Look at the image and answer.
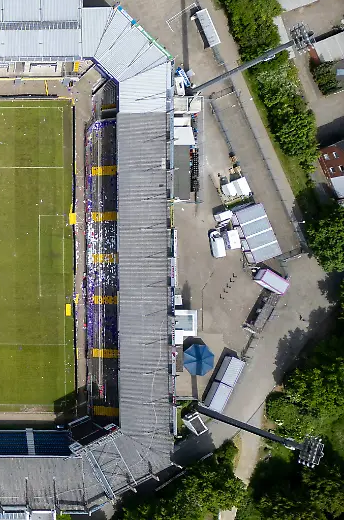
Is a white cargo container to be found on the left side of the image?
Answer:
No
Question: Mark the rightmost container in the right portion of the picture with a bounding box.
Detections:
[247,269,289,294]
